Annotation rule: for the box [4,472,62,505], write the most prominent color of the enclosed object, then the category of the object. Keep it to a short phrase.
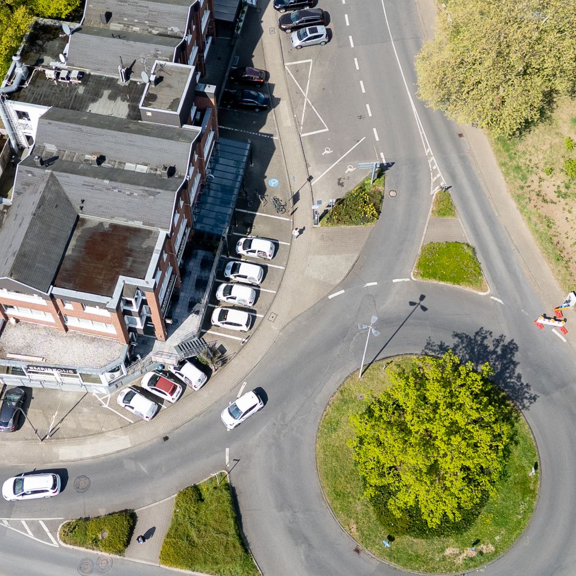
white car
